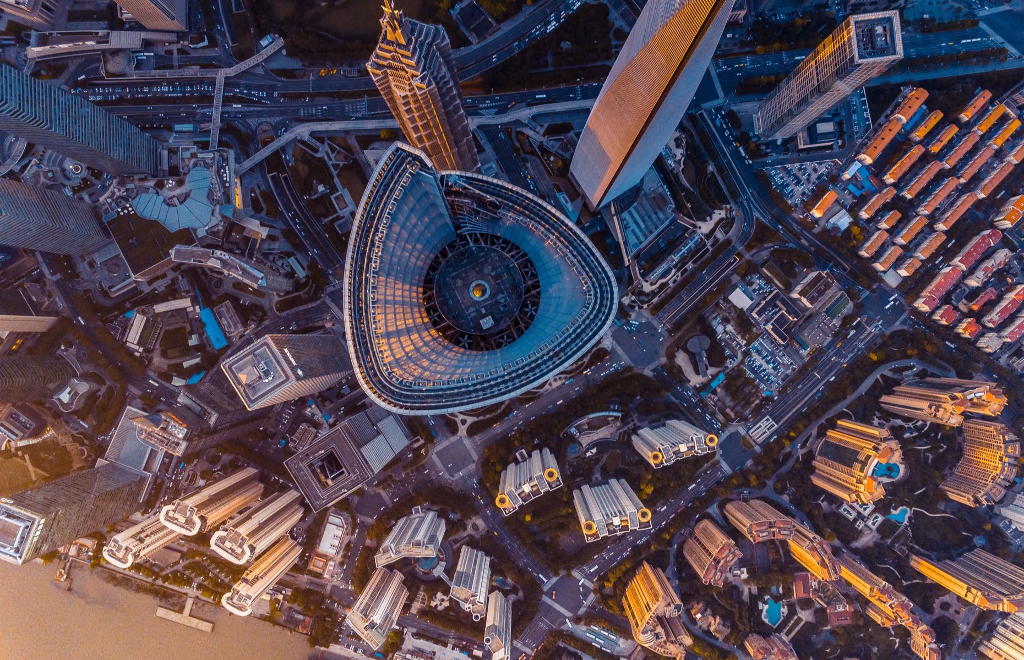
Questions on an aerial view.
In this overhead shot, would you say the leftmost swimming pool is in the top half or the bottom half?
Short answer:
bottom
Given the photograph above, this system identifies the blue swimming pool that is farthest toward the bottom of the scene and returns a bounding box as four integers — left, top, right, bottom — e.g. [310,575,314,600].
[812,631,838,646]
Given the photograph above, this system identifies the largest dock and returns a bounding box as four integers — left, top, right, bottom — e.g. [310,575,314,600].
[156,598,214,632]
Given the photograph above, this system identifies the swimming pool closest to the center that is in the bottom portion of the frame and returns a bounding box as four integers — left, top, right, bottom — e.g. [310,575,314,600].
[566,441,582,457]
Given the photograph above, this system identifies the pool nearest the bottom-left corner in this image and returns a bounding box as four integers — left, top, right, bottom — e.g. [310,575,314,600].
[416,555,440,575]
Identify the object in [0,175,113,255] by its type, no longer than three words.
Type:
building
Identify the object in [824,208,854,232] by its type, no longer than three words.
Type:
shed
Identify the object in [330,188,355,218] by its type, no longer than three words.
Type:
building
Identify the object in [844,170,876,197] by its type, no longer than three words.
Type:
shed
